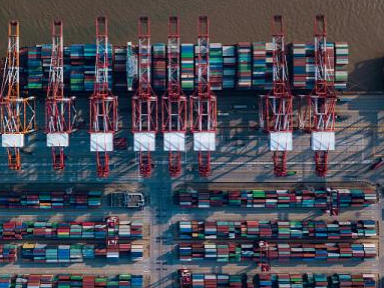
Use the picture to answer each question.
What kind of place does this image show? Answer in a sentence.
The picture captures a port.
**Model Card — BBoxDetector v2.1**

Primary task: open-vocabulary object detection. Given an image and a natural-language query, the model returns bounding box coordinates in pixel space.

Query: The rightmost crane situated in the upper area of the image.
[291,15,337,177]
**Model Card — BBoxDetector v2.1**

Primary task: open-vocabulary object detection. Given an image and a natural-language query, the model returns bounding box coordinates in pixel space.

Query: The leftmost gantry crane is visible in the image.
[0,20,45,173]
